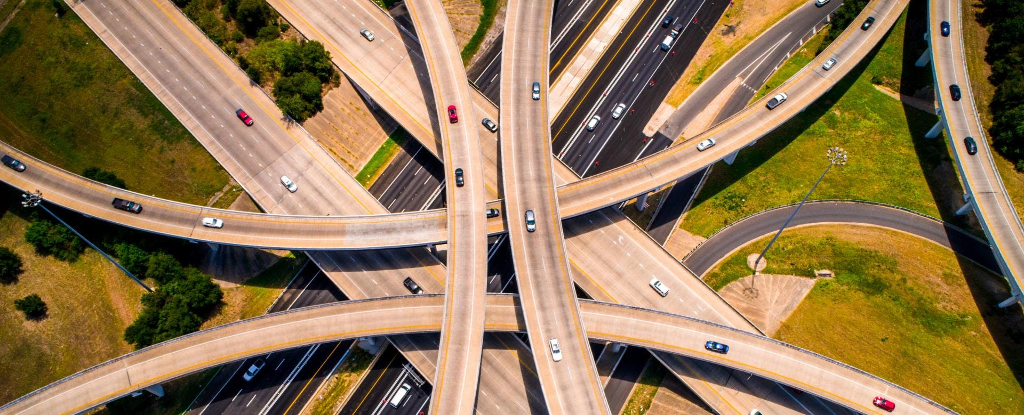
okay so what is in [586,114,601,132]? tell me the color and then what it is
white car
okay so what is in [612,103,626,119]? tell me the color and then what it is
white car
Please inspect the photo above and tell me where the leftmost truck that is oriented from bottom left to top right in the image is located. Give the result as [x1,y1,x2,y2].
[242,356,266,383]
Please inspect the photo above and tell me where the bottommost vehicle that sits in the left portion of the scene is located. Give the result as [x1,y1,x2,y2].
[390,383,411,408]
